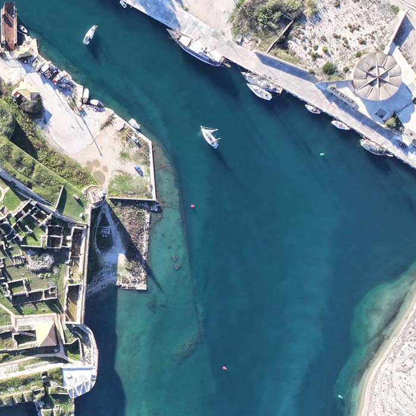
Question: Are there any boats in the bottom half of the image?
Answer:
No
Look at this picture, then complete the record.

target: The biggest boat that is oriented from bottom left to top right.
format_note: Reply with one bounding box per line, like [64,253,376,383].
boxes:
[83,25,97,45]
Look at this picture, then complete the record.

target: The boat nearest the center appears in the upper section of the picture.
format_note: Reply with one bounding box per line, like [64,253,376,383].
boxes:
[200,126,220,151]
